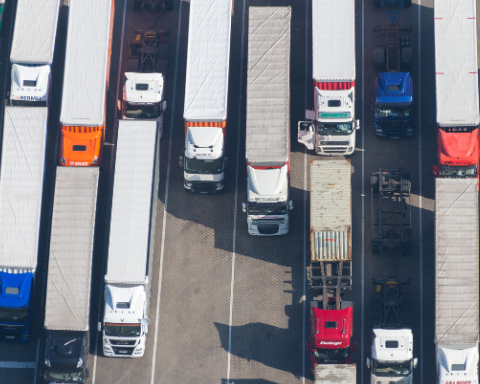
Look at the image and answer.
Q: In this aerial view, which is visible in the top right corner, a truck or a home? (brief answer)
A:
truck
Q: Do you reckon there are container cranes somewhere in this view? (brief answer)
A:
No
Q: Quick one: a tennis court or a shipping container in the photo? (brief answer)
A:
shipping container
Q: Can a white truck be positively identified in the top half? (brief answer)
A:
Yes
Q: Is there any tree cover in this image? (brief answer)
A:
No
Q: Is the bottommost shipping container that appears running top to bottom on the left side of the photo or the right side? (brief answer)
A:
right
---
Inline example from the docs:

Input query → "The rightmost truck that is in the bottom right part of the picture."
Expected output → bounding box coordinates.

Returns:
[433,177,480,384]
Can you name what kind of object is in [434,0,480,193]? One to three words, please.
truck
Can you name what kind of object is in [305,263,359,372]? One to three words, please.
truck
